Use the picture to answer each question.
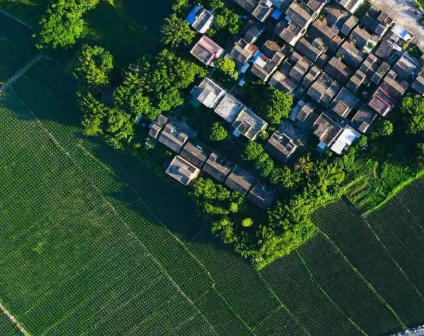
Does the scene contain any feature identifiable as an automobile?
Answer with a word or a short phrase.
No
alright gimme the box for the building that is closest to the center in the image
[200,150,234,180]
